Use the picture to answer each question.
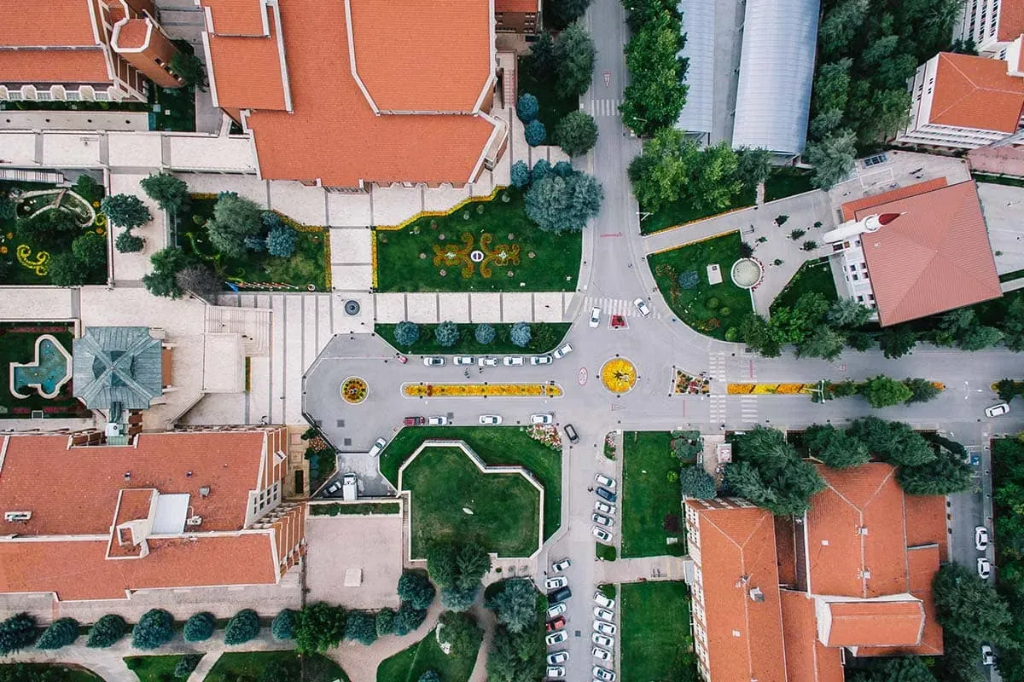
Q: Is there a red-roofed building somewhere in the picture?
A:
Yes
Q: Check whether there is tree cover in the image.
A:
Yes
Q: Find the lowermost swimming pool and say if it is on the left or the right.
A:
left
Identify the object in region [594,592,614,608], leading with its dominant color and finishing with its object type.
white car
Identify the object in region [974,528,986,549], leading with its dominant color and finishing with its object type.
white vehicle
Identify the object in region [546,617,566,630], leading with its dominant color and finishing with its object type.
red vehicle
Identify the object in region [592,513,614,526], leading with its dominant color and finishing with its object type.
white vehicle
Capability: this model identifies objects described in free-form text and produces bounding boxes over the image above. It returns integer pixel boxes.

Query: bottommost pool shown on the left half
[7,331,73,400]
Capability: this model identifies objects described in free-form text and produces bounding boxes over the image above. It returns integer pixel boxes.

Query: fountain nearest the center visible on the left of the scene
[343,299,360,316]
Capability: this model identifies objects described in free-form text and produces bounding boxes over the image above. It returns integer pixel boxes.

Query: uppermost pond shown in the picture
[8,186,94,227]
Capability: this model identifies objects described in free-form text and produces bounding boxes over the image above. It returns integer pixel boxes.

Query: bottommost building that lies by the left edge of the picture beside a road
[0,412,303,602]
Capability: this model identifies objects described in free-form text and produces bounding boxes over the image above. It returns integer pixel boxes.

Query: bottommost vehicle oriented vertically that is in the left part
[343,471,356,501]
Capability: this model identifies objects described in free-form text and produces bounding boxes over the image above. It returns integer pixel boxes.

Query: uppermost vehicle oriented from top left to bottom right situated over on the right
[633,297,650,318]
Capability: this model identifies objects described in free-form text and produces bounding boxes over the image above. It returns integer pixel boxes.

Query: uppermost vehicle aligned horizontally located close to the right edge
[984,404,1007,416]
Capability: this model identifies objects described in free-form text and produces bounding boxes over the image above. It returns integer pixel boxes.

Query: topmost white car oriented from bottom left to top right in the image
[553,343,573,359]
